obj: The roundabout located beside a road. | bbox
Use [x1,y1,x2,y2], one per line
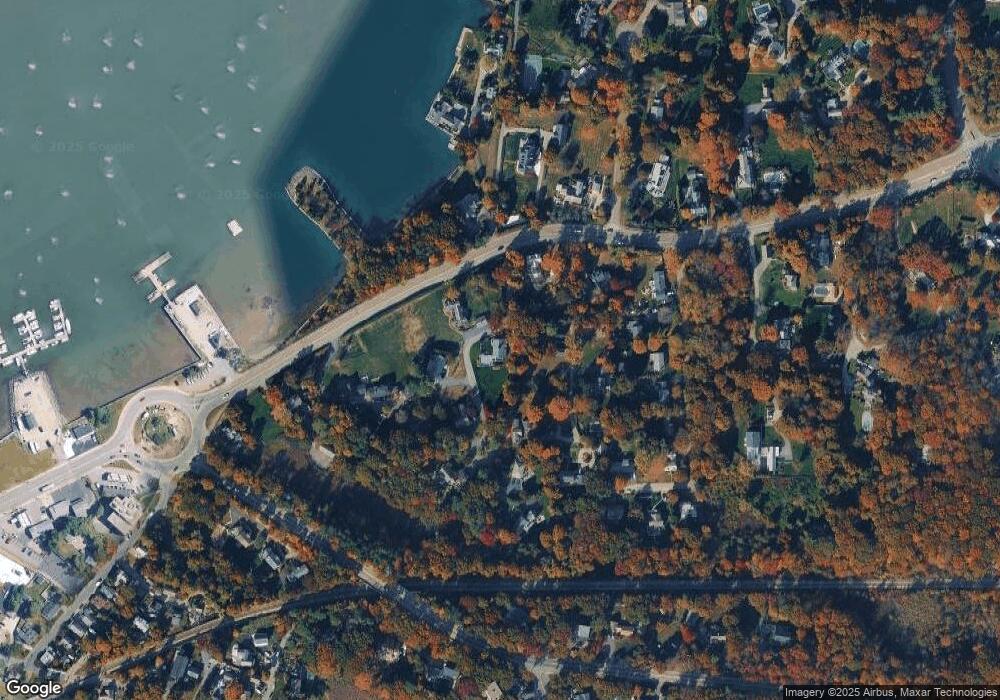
[120,389,204,472]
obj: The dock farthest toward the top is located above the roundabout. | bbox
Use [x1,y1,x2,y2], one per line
[133,252,176,305]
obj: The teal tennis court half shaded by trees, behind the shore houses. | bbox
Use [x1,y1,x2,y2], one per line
[524,56,542,92]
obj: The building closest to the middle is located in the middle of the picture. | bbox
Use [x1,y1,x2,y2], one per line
[479,337,506,369]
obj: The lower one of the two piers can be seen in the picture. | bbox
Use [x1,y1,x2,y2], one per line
[0,297,67,376]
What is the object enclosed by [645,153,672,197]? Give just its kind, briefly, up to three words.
house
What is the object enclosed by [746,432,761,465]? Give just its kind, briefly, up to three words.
barn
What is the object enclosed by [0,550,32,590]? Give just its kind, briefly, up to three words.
building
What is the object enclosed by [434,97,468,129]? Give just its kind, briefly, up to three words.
house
